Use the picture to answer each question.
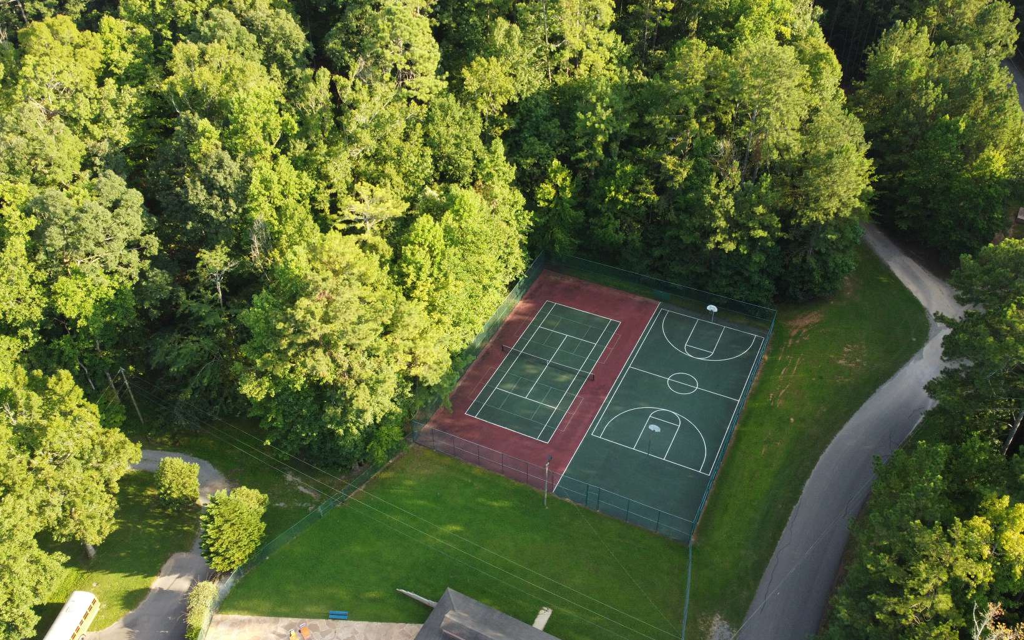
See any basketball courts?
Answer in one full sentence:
Yes, there's a basketball court here.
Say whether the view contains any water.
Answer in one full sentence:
No, there is no water in the image.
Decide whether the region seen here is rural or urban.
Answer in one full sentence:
The area shown here is rural.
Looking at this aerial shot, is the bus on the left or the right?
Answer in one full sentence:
You can find the bus on the left side of the picture.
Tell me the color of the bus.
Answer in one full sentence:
The bus looks white in the image.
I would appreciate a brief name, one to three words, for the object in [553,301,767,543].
basketball court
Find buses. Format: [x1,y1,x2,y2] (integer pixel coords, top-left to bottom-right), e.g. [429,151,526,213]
[45,594,104,640]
